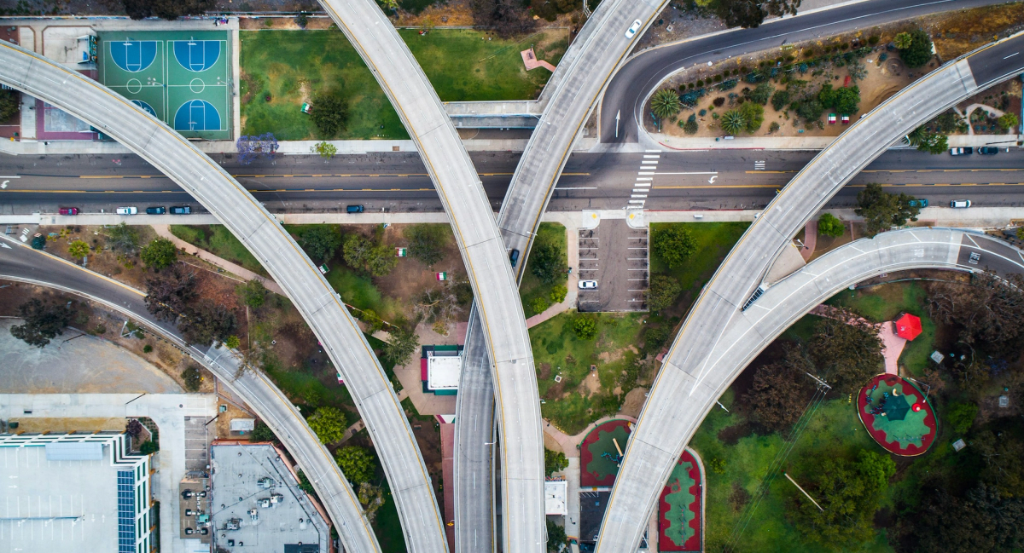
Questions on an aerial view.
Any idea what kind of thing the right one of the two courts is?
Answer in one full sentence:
It turns out the right one of the two courts is a basketball court.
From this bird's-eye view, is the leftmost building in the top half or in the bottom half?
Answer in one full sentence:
You can find the leftmost building in the bottom half.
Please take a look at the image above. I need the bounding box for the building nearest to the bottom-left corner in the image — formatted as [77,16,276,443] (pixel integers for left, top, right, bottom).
[0,430,161,553]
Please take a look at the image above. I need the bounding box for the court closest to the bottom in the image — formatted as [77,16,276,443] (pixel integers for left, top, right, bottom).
[37,102,90,139]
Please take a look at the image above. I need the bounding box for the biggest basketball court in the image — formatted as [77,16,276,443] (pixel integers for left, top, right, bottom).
[97,30,229,139]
